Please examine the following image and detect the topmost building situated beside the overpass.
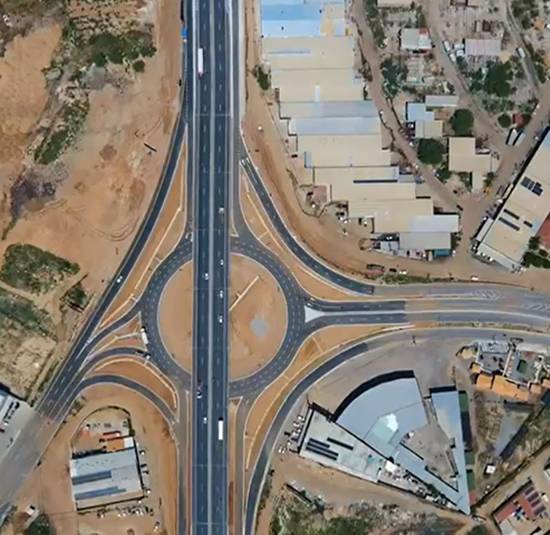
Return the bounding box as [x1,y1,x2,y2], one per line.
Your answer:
[262,0,346,37]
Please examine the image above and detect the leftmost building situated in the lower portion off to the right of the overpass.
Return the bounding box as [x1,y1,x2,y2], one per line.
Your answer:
[300,412,387,481]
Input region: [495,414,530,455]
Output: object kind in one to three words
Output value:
building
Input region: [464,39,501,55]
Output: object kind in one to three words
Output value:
house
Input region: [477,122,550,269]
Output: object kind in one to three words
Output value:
building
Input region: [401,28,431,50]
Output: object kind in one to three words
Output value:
house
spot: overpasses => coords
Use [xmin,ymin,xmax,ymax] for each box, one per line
[191,0,233,535]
